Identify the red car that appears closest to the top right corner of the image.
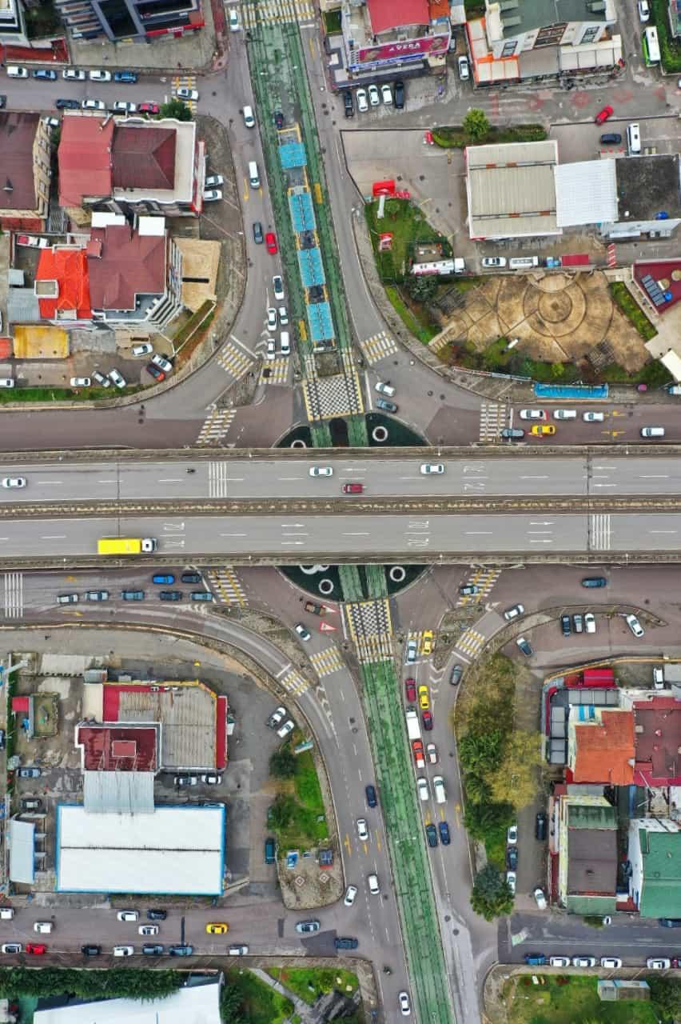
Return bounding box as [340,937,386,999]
[594,105,614,127]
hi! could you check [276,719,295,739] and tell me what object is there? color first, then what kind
white car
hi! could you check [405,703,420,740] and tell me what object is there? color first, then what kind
white vehicle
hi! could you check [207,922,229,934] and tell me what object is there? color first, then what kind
yellow vehicle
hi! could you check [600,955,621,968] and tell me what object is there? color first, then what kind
white vehicle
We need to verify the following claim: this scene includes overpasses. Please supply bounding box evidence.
[0,444,681,567]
